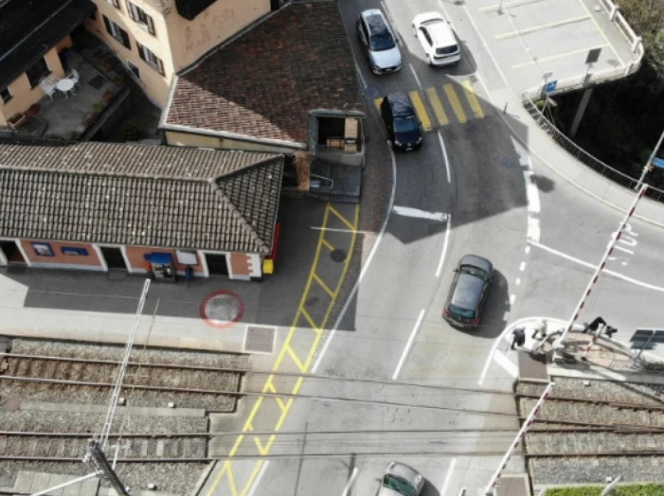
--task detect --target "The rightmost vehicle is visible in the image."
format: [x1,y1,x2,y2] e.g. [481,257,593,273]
[444,249,499,330]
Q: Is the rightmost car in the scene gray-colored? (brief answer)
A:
Yes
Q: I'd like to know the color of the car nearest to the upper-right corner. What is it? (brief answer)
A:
white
